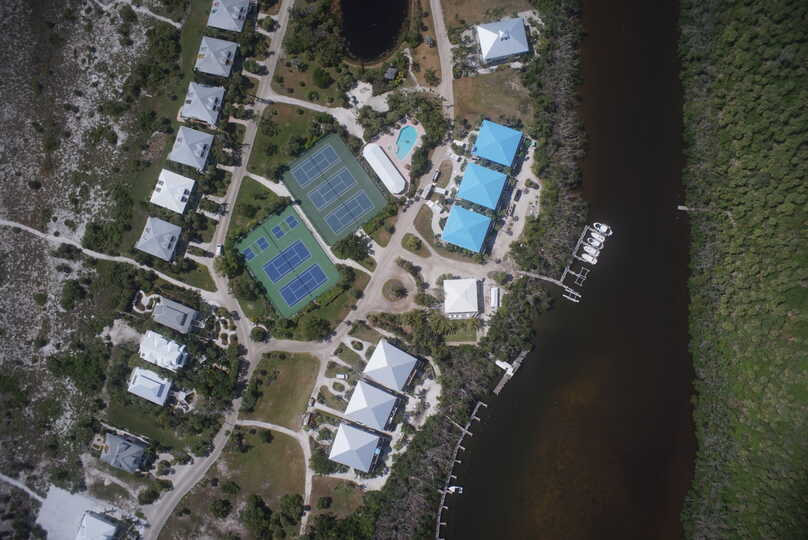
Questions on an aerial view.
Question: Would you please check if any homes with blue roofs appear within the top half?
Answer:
Yes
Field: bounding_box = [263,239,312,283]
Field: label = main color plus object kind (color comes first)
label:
blue tennis court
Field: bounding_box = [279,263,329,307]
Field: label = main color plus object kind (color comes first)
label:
blue tennis court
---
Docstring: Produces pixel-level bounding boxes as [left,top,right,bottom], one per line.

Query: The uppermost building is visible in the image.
[208,0,256,36]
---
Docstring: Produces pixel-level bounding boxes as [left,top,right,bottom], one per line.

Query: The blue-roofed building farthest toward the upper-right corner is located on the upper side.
[473,119,524,168]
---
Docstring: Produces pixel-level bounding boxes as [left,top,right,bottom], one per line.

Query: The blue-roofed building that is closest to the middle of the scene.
[441,205,493,253]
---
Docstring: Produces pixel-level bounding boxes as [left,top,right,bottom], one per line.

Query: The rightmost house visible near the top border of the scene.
[477,17,528,67]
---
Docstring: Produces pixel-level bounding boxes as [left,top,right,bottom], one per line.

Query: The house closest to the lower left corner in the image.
[77,510,126,540]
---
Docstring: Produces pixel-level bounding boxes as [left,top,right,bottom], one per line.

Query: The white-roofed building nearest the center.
[443,279,478,317]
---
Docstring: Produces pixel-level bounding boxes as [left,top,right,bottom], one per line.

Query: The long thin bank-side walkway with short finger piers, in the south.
[436,402,488,540]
